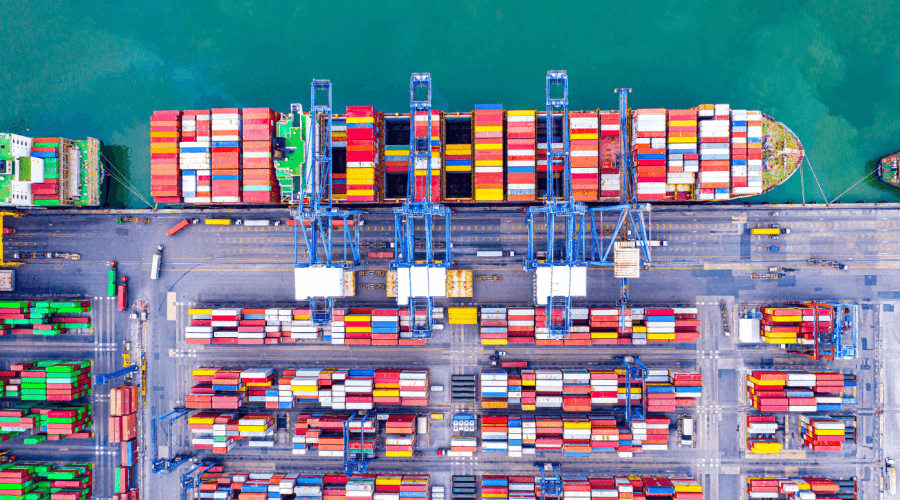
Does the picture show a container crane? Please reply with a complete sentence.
Yes, this view includes a container crane.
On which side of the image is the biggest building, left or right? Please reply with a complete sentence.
The biggest building appears in the right half of the scene.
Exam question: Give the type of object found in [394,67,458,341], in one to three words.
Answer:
container crane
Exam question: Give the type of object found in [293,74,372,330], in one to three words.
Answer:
container crane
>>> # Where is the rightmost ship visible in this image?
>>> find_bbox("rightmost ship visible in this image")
[868,154,900,193]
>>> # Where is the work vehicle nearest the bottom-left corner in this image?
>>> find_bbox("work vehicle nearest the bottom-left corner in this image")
[87,367,136,391]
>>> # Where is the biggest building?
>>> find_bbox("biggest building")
[740,318,766,344]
